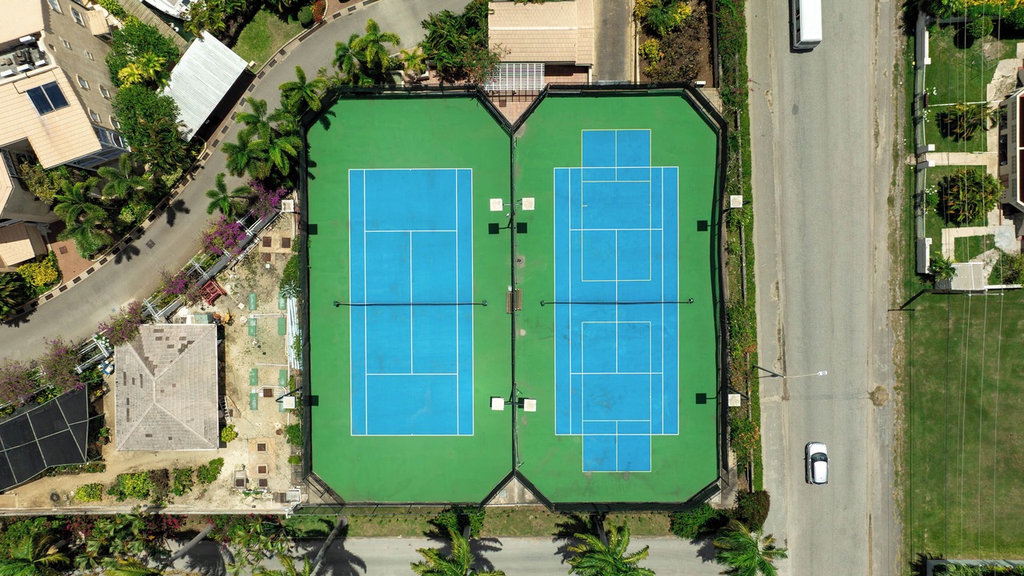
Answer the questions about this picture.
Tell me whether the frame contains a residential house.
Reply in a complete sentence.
Yes, there's a residential house here.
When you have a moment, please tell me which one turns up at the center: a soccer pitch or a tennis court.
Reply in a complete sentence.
You can see a tennis court at the center.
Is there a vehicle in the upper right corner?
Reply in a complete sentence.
Yes, I can see a vehicle in the upper right corner.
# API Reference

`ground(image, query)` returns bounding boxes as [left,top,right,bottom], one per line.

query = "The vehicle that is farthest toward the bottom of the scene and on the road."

[805,442,831,485]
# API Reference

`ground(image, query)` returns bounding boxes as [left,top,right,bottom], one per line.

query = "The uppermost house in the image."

[488,0,594,85]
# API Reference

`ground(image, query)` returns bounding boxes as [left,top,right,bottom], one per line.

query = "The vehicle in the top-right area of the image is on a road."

[789,0,822,49]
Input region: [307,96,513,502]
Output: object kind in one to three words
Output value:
tennis court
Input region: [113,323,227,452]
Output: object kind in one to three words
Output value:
house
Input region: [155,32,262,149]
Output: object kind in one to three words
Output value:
shed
